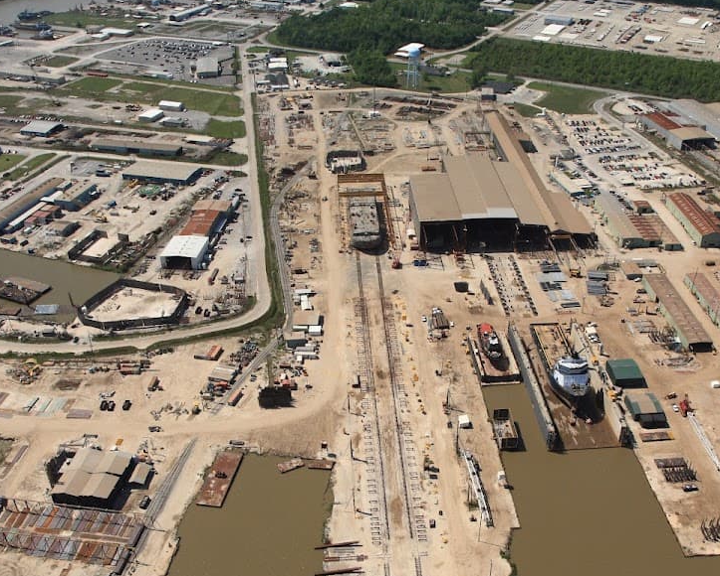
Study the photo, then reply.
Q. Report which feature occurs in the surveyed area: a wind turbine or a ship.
ship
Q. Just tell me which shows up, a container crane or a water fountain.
container crane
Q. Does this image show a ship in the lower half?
Yes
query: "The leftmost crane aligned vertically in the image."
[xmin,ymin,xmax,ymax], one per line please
[257,324,292,405]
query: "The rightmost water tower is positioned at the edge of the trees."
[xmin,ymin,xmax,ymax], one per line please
[405,49,422,90]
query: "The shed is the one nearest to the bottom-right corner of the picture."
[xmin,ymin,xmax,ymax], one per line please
[624,392,665,423]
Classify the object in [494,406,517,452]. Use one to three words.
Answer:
ship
